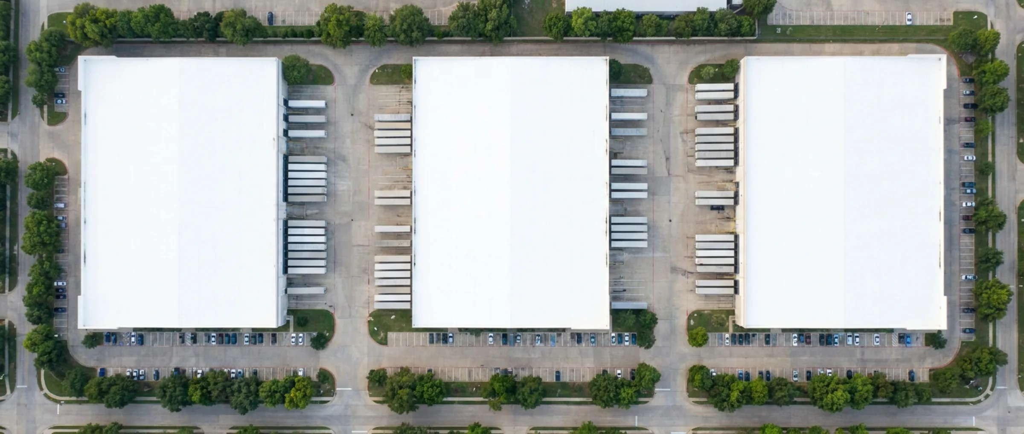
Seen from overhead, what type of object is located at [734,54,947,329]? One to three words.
warehouse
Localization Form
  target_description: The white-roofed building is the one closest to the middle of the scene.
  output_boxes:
[411,57,611,329]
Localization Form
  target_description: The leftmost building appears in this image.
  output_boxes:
[78,56,289,329]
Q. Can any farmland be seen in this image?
No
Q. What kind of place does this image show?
industrial area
